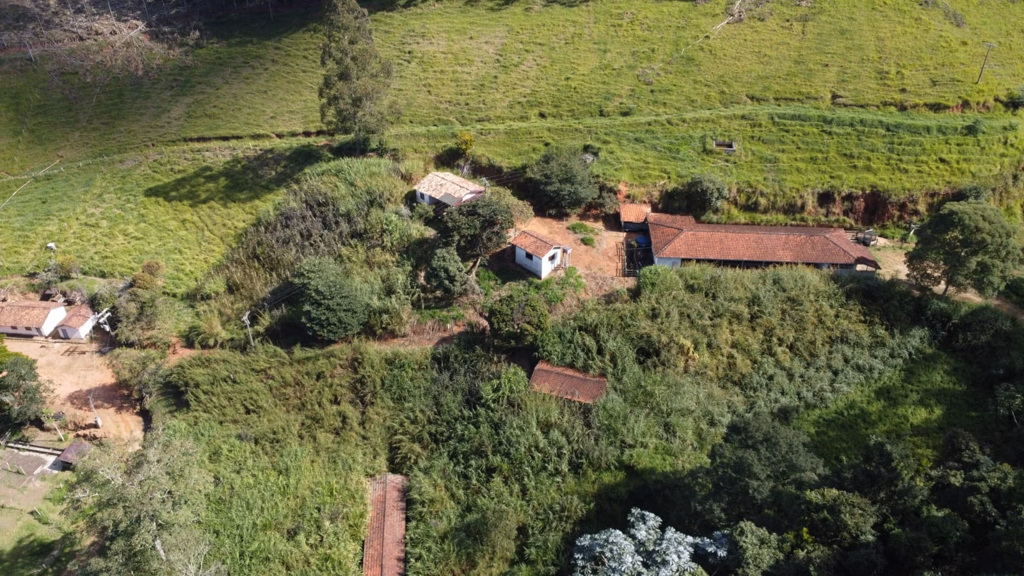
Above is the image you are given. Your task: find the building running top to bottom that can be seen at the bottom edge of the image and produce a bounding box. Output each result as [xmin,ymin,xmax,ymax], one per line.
[358,470,406,576]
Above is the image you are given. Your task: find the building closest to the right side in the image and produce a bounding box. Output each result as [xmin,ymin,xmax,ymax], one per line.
[648,209,870,281]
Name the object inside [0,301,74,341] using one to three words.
house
